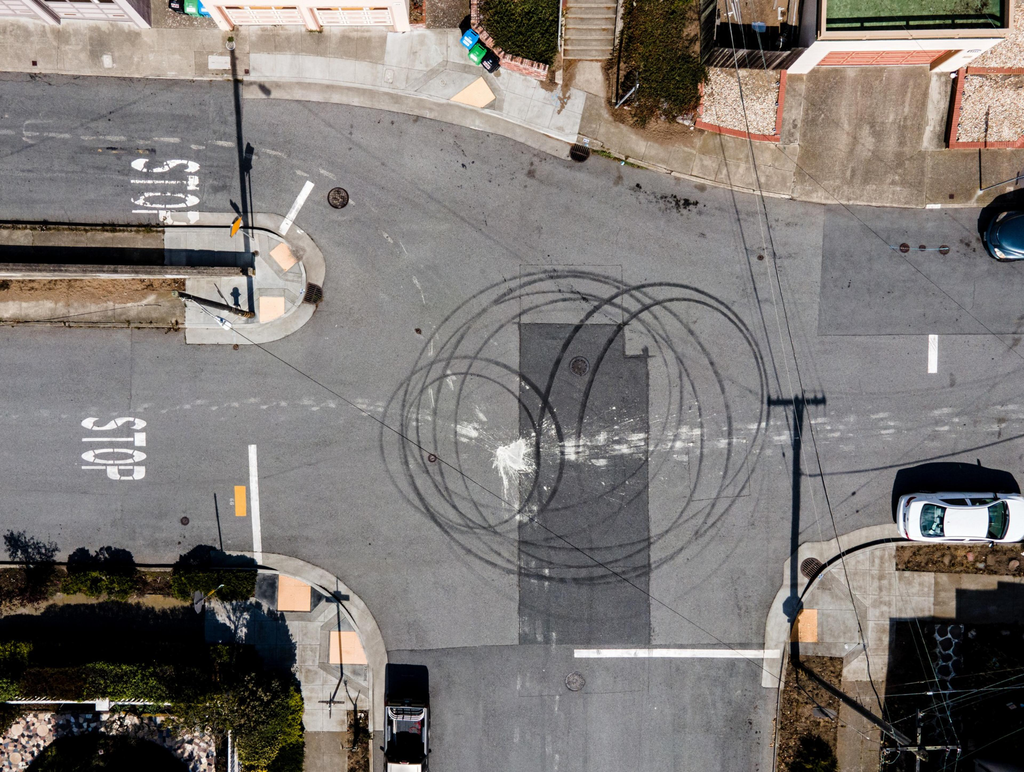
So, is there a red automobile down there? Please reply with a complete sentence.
No, there's no red automobile here.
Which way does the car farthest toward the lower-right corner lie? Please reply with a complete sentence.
The car farthest toward the lower-right corner is oriented from side to side.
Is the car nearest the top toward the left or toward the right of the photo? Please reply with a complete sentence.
The car nearest the top appears in the right half of the scene.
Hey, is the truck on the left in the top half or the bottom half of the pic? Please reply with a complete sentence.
It is in the bottom half that the truck on the left appears.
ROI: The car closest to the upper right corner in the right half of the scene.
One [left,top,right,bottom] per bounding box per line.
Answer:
[982,213,1024,265]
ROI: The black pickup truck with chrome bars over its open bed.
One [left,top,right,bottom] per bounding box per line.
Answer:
[378,696,435,772]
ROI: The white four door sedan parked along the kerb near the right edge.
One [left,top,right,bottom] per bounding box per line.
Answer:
[894,486,1023,546]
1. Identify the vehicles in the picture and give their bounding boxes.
[378,696,435,772]
[894,486,1023,546]
[982,213,1024,265]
